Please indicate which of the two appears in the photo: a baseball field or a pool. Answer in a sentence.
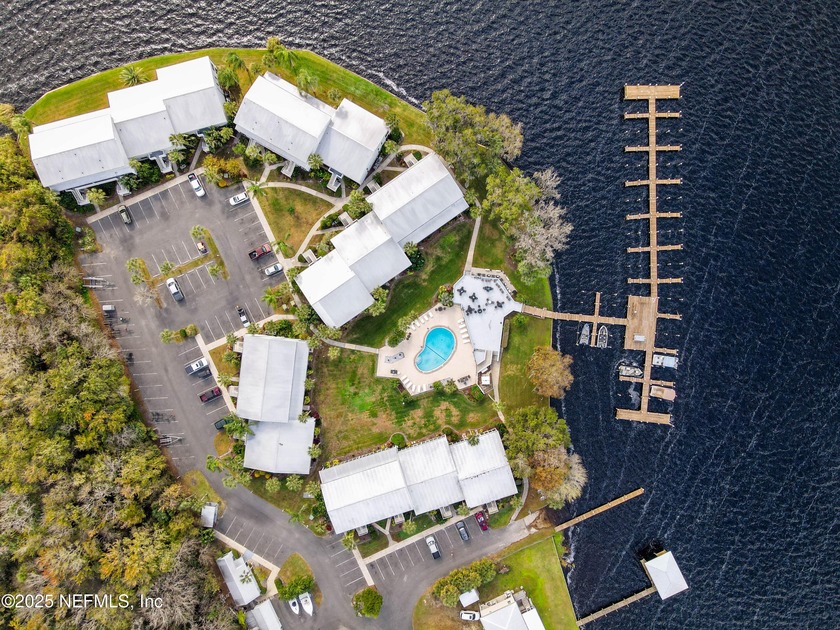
I can see a pool in this picture.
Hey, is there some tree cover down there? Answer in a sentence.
Yes, tree cover shows up in the scene.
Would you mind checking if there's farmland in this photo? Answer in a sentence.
No, no farmland is visible.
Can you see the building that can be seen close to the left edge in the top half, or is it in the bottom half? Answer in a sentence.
It is in the top half that the building that can be seen close to the left edge appears.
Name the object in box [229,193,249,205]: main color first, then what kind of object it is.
white vehicle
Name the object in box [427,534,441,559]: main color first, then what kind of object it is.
white vehicle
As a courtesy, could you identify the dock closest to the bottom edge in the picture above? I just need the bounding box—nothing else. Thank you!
[576,583,658,628]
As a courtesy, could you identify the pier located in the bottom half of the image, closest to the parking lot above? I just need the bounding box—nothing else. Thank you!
[554,488,644,531]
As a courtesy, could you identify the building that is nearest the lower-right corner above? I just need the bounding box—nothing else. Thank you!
[638,546,689,600]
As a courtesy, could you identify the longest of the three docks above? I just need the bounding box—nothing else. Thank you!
[523,84,682,426]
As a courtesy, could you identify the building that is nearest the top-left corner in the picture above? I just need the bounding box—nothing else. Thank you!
[29,57,230,203]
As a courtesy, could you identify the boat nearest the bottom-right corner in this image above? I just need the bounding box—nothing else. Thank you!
[650,386,678,400]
